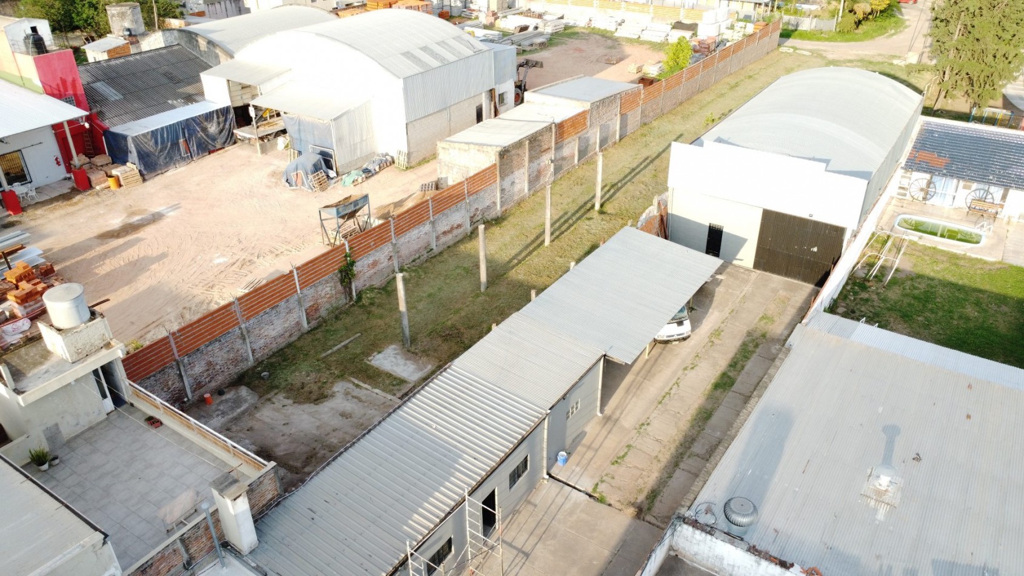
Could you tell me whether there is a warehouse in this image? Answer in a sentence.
Yes, a warehouse can be made out from above.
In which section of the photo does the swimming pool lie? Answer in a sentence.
The swimming pool sits in the right section of the image.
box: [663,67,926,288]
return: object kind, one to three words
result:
warehouse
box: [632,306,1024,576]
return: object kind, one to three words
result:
building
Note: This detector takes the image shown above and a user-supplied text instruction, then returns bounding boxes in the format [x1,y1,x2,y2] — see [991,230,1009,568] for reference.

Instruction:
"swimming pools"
[890,213,986,243]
